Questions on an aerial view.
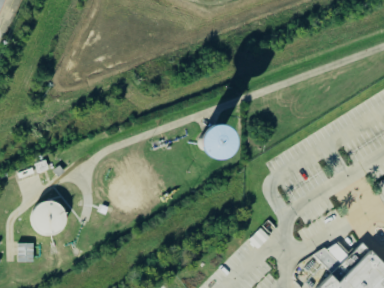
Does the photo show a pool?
No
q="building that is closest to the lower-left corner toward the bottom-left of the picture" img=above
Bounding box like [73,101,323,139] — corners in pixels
[18,244,34,262]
